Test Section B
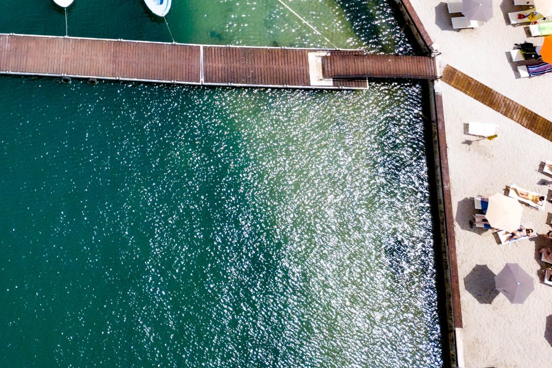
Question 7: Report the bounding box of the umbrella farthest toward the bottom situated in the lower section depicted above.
[494,265,534,303]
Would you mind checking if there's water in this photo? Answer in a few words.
Yes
